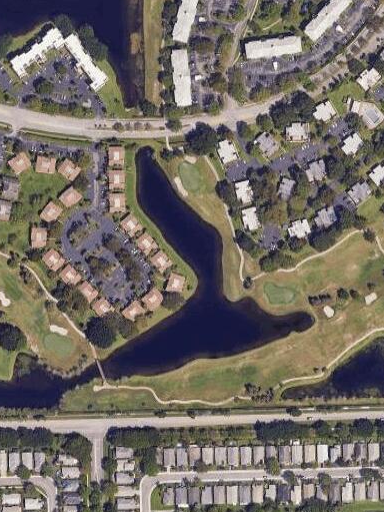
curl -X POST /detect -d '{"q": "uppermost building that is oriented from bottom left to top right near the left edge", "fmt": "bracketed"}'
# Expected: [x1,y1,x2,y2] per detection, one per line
[9,28,64,77]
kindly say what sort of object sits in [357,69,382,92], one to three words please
house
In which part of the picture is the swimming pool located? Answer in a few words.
top right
